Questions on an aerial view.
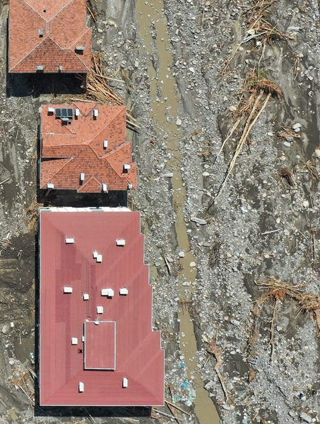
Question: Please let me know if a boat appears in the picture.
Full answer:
No, there appears to be no boat in this shot.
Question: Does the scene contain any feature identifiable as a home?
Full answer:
Yes, there's a home here.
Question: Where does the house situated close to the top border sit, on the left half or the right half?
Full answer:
The house situated close to the top border appears in the left half of the scene.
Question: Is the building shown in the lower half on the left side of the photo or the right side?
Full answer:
You can find the building shown in the lower half on the left side of the picture.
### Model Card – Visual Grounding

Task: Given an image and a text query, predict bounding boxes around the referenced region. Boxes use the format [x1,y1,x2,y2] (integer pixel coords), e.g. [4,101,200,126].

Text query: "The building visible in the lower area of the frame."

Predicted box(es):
[38,200,165,407]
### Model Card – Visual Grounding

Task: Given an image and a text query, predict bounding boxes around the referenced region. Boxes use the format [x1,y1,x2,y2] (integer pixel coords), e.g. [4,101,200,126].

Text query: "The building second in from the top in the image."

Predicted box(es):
[39,103,137,192]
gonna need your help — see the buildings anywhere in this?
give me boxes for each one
[8,0,92,73]
[39,103,137,192]
[38,200,165,407]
